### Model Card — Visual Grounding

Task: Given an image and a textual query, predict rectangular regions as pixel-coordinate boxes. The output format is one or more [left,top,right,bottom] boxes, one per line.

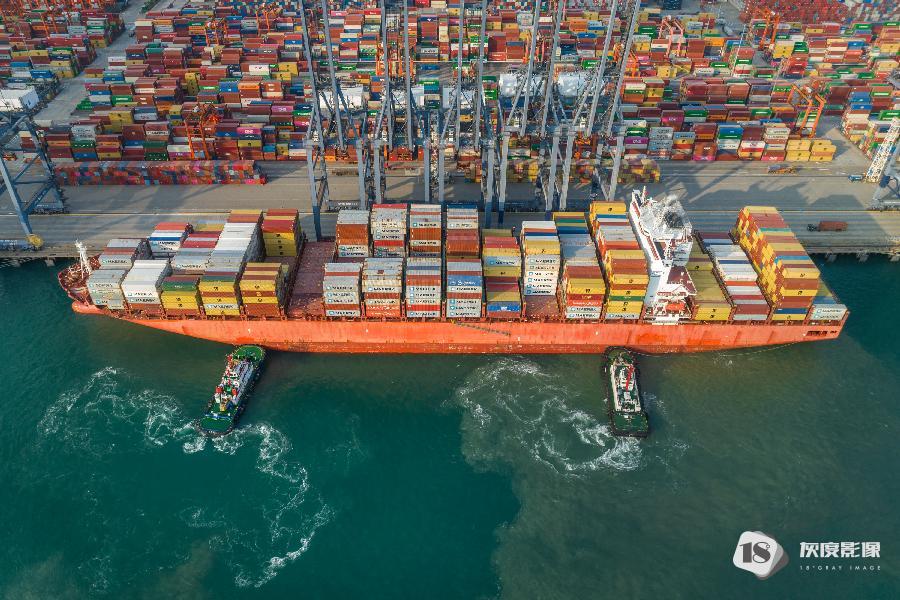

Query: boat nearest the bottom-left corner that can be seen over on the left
[198,348,266,435]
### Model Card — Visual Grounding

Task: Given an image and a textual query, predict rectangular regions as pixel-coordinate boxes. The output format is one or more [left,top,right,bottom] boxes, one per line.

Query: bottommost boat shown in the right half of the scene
[603,349,650,437]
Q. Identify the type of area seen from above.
port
